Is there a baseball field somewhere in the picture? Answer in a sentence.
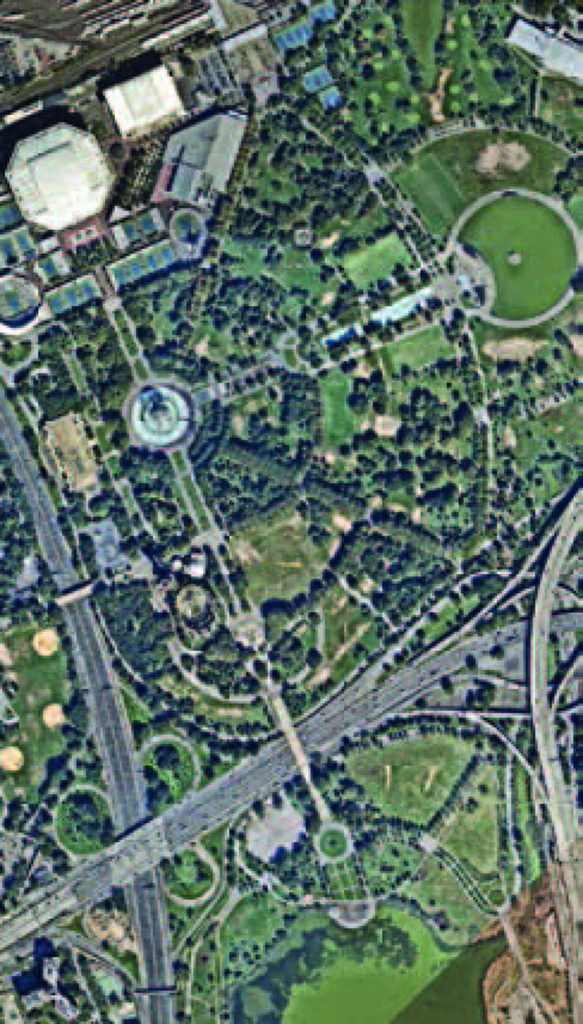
Yes, a baseball field is visible in the scene.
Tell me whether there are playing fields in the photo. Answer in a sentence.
Yes, a playing field is visible in the scene.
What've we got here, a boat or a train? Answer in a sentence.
Of the two, only a train appears.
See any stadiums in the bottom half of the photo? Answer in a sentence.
No, looking in the bottom half of the photo, there is no stadium.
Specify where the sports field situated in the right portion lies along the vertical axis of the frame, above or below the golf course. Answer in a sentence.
From this view, the sports field situated in the right portion can be seen below the golf course.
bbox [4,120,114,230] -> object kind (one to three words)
stadium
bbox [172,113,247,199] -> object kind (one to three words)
building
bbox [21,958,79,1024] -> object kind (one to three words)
building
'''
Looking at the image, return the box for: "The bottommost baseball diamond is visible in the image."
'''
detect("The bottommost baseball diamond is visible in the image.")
[0,743,26,774]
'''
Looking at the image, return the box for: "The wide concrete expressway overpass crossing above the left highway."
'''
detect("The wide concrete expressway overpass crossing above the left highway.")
[108,807,190,882]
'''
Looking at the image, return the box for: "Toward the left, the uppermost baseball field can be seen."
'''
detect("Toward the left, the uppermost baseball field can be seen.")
[31,627,61,657]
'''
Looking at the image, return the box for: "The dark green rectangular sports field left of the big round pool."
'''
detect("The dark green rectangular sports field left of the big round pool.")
[396,155,463,231]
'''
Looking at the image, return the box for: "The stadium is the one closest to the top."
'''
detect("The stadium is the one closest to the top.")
[104,62,184,138]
